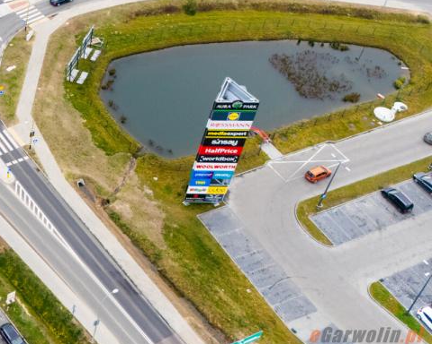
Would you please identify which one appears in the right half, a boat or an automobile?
automobile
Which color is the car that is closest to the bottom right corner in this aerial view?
white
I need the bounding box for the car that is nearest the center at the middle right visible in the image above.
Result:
[301,165,334,185]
